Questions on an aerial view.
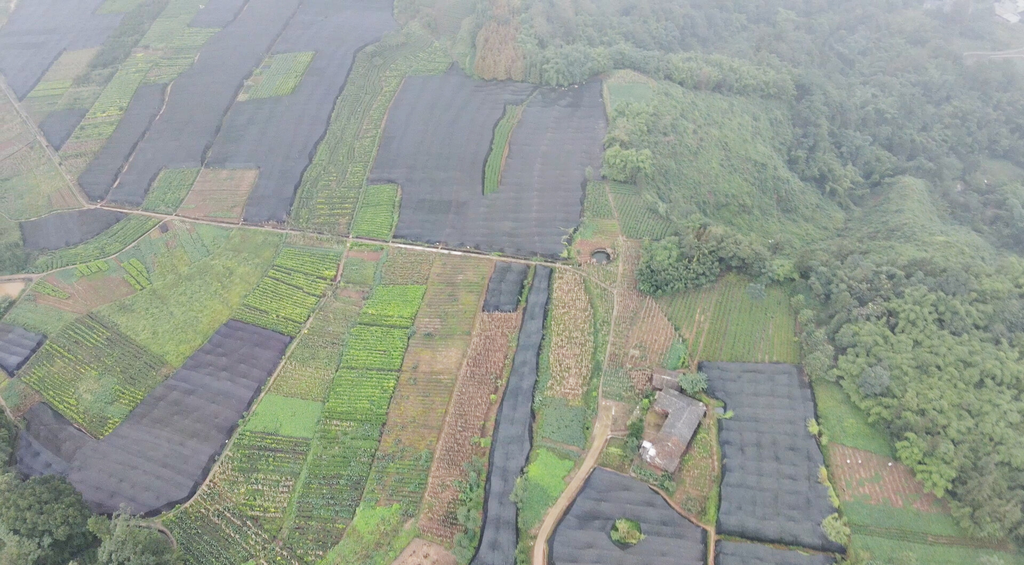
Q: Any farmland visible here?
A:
Yes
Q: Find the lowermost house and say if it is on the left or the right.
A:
right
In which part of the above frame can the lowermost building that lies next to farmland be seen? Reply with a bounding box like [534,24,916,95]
[636,387,709,481]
